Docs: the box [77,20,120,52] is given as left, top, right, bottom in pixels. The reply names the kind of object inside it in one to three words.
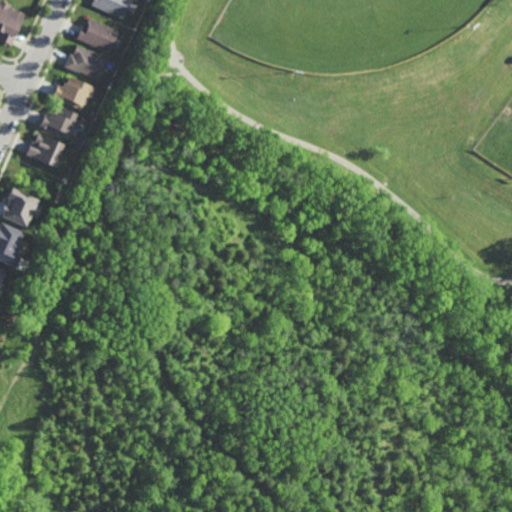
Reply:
house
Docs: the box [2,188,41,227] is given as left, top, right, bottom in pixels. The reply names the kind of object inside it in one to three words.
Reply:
house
